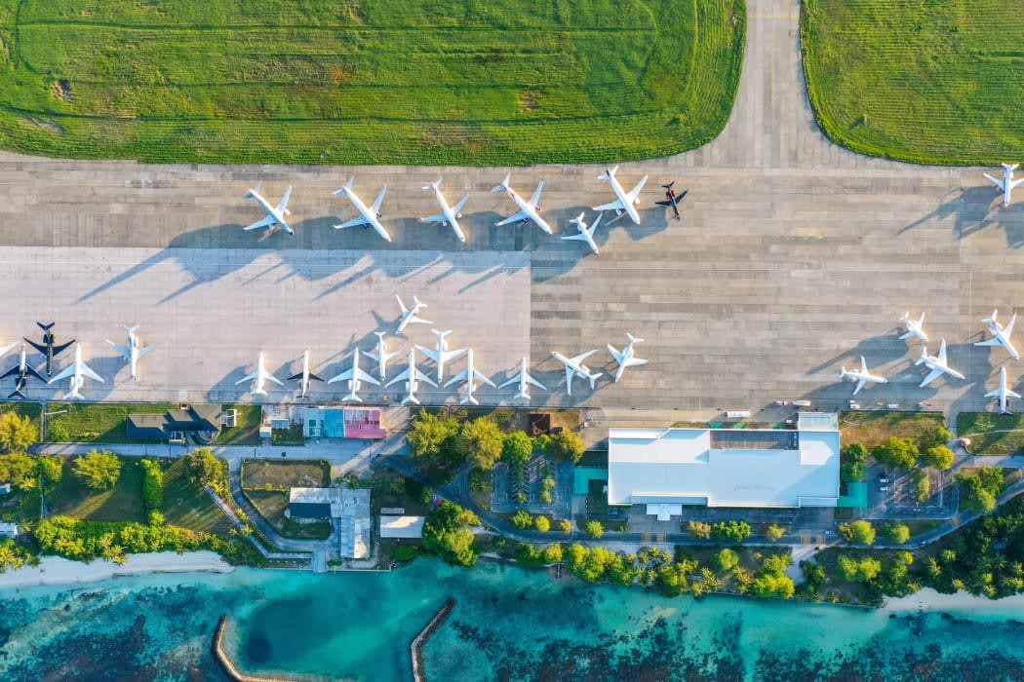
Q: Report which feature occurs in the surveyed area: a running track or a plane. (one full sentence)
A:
The one in the frame is a plane.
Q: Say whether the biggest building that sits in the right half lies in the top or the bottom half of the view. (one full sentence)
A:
The biggest building that sits in the right half sits in the bottom half of the picture.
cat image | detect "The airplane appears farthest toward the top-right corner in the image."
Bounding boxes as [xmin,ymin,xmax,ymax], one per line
[985,160,1024,207]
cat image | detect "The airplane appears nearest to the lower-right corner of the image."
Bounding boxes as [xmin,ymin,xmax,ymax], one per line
[985,367,1023,415]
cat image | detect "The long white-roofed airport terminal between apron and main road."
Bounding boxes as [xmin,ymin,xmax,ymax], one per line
[601,411,843,519]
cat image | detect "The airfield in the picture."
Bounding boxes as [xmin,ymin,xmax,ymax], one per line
[0,0,1024,449]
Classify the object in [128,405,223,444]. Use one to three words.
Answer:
house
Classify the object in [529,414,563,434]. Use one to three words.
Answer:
shed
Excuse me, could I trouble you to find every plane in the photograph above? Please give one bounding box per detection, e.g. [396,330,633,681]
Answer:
[445,348,496,404]
[497,176,553,234]
[384,349,437,404]
[606,338,650,381]
[595,168,650,223]
[920,338,964,386]
[414,329,467,381]
[396,296,432,332]
[552,347,600,394]
[898,310,927,340]
[235,353,283,398]
[0,344,46,401]
[656,183,689,219]
[328,348,380,402]
[563,212,604,253]
[842,356,886,395]
[240,181,291,233]
[105,324,158,378]
[335,178,391,241]
[19,322,72,375]
[985,160,1024,207]
[286,351,323,401]
[978,312,1022,359]
[361,331,401,378]
[499,358,547,397]
[46,343,103,399]
[985,367,1023,415]
[423,179,469,241]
